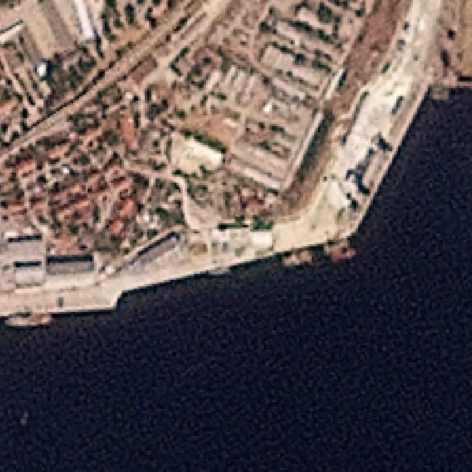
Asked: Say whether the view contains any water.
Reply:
Yes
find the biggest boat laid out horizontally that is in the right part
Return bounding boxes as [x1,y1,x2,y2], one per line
[324,241,355,257]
